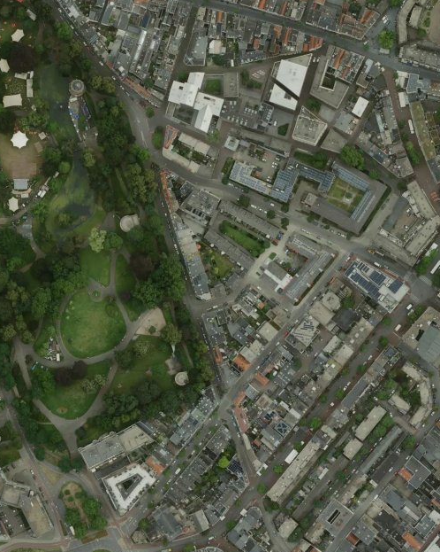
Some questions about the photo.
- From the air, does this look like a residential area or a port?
residential area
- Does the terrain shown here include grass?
Yes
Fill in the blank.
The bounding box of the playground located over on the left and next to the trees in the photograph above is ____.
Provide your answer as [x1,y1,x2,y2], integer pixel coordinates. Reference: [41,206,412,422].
[136,309,166,336]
